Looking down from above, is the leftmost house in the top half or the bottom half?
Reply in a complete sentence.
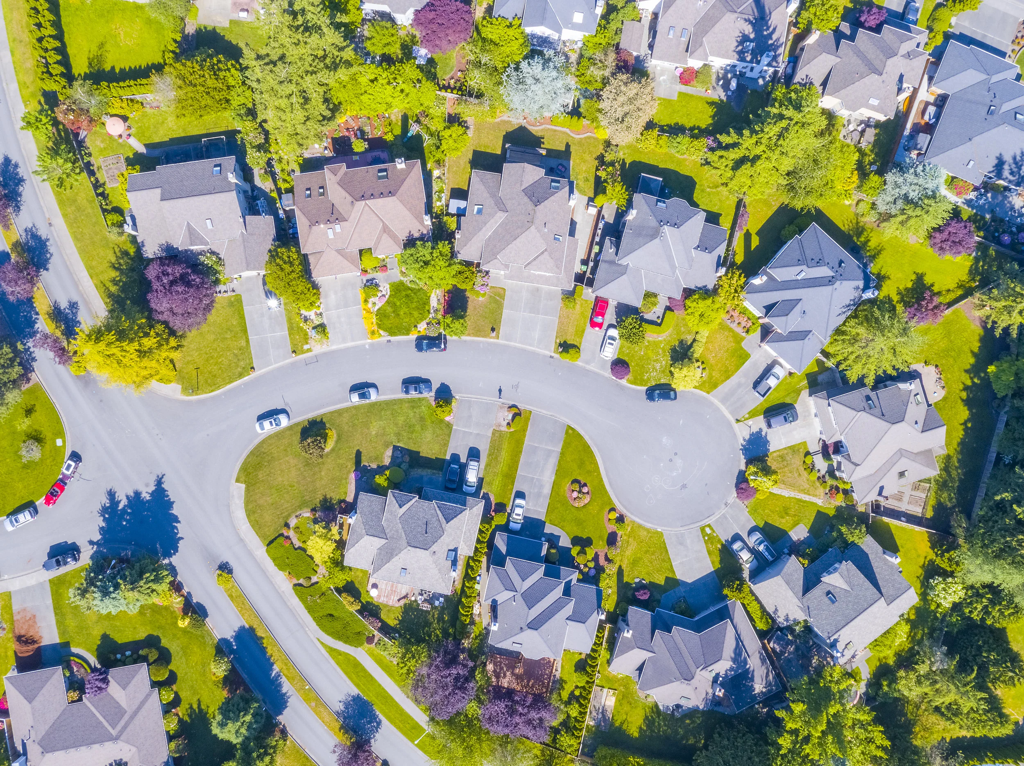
The leftmost house is in the bottom half of the image.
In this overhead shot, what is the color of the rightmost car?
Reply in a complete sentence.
From above, the rightmost car appears blue.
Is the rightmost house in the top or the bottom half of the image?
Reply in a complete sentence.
Seen from above, the rightmost house lies in the top half of the view.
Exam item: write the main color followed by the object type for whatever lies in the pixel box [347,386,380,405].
white car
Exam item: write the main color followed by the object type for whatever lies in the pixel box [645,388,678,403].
blue car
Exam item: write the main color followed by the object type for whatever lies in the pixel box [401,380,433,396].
blue car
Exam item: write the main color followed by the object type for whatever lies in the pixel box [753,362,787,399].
white truck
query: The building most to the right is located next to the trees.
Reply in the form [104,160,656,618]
[924,39,1024,181]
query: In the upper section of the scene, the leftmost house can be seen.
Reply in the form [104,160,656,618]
[122,156,280,277]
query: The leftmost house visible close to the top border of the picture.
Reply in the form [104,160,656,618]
[359,0,427,28]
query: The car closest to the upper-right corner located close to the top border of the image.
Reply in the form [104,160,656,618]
[902,0,922,26]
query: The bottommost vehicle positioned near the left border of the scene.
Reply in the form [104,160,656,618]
[41,549,81,573]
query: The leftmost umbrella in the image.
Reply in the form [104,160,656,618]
[106,117,126,136]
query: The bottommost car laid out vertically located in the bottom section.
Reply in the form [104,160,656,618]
[509,498,527,531]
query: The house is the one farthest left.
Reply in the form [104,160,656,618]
[3,661,180,766]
